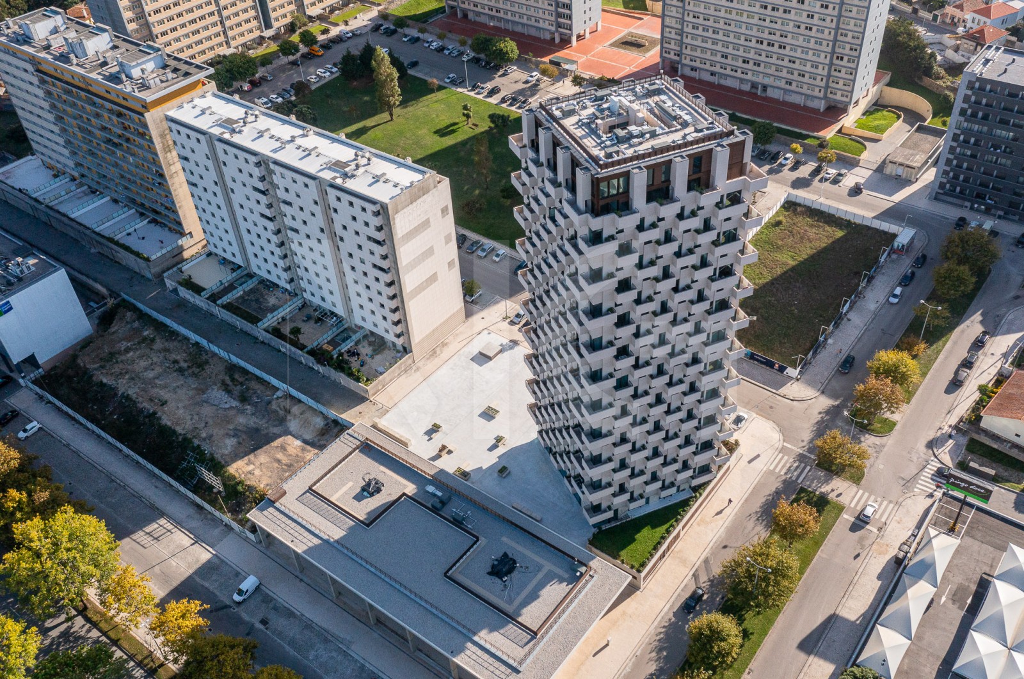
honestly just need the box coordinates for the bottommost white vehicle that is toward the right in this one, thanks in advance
[857,503,880,524]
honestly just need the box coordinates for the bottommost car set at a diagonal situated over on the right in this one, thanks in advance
[678,588,709,614]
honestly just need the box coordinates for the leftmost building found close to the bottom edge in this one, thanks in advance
[245,423,629,679]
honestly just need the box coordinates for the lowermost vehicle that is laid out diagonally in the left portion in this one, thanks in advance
[230,571,262,604]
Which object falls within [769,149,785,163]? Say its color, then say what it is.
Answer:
black car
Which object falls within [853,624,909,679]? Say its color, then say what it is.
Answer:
white tent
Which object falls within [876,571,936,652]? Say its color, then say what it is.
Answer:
white tent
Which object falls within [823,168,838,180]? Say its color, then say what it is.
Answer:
white vehicle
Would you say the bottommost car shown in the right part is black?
Yes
